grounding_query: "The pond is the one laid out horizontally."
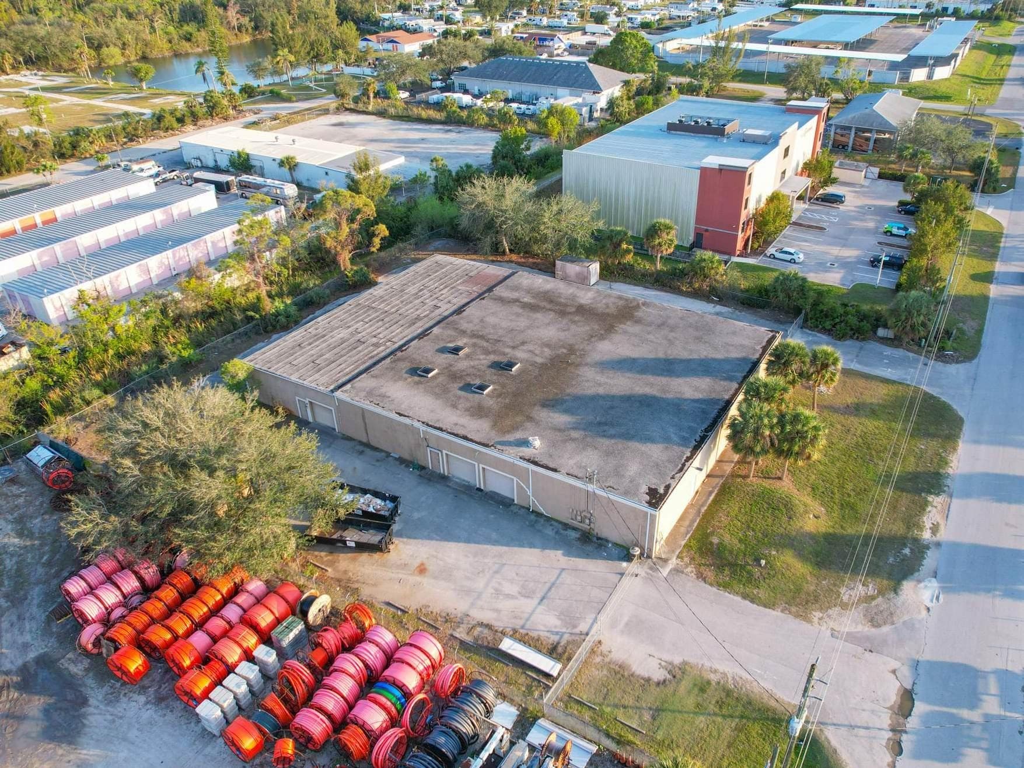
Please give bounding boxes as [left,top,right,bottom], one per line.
[90,39,374,92]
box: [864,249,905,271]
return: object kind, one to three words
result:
car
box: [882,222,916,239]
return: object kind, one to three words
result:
car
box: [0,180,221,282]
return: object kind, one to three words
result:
building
